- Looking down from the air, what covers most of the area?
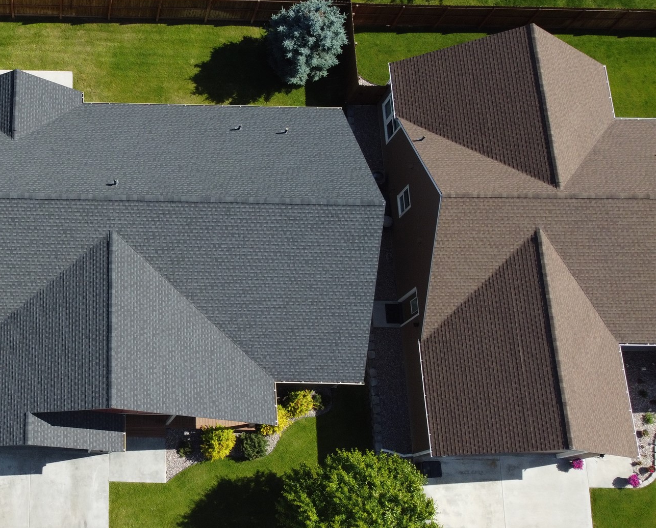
buildings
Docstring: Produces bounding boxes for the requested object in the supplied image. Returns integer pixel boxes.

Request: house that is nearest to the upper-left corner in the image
[0,69,380,455]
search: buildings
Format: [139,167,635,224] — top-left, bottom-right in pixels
[0,69,380,455]
[379,21,656,462]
